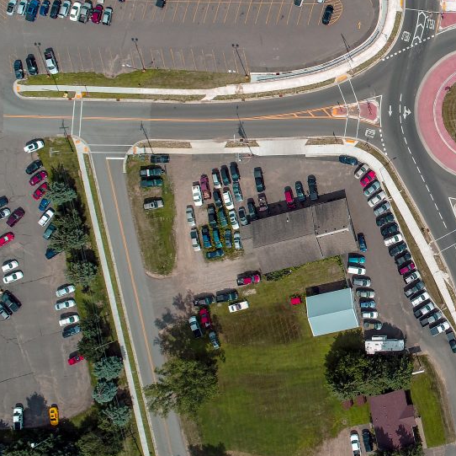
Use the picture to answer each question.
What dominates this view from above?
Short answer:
paved ground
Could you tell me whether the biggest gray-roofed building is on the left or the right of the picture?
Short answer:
right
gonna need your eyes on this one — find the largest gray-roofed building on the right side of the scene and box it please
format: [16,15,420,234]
[252,198,359,274]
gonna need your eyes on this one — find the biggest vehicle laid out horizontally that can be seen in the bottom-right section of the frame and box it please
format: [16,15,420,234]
[365,334,411,353]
